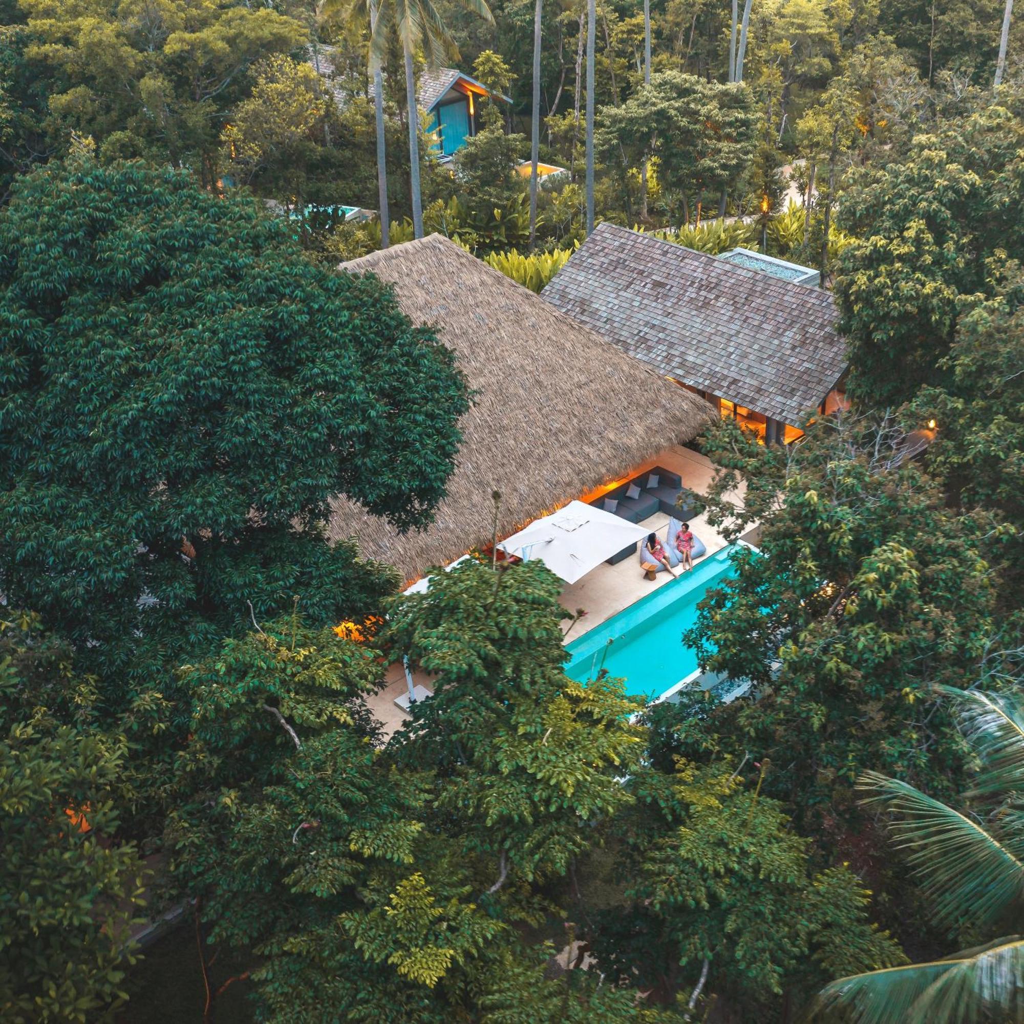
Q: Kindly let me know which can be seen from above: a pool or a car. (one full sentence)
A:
Looking from above, you can make out a pool.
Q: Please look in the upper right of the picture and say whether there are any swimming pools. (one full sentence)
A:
No, no swimming pool appears in the upper right of the picture.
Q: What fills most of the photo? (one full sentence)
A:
What you mostly see from above here is trees.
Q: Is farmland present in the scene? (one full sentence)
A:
No, the picture contains no farmland.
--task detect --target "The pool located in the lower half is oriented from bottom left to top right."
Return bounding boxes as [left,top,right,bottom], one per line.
[441,552,843,865]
